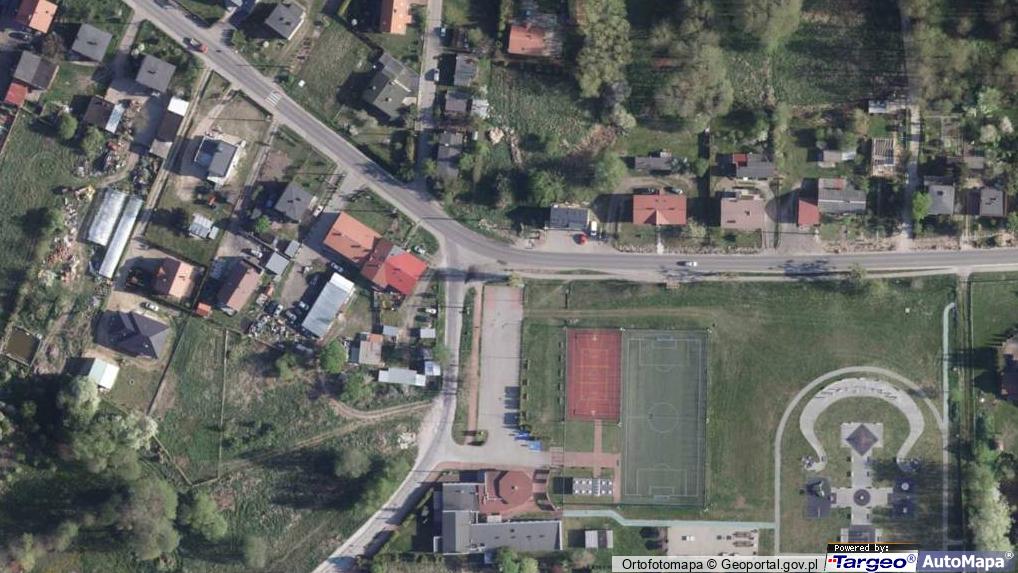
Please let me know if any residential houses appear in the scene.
Yes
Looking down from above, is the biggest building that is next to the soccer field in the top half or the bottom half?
bottom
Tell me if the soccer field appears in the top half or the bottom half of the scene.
bottom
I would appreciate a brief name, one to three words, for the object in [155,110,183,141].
shed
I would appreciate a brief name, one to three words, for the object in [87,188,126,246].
greenhouse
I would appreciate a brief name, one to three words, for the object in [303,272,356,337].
building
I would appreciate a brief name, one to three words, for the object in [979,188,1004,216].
house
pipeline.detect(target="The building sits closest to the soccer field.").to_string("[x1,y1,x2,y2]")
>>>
[573,478,614,494]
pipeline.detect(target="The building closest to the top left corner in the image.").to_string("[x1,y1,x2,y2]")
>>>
[16,0,59,33]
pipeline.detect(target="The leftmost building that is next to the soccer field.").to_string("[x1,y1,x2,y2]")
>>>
[432,471,563,554]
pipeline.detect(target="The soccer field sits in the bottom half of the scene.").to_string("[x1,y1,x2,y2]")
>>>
[620,329,707,505]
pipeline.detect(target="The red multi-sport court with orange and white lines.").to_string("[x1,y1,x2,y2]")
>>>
[567,330,621,422]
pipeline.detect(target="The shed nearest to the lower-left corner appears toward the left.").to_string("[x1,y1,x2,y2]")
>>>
[89,358,119,389]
